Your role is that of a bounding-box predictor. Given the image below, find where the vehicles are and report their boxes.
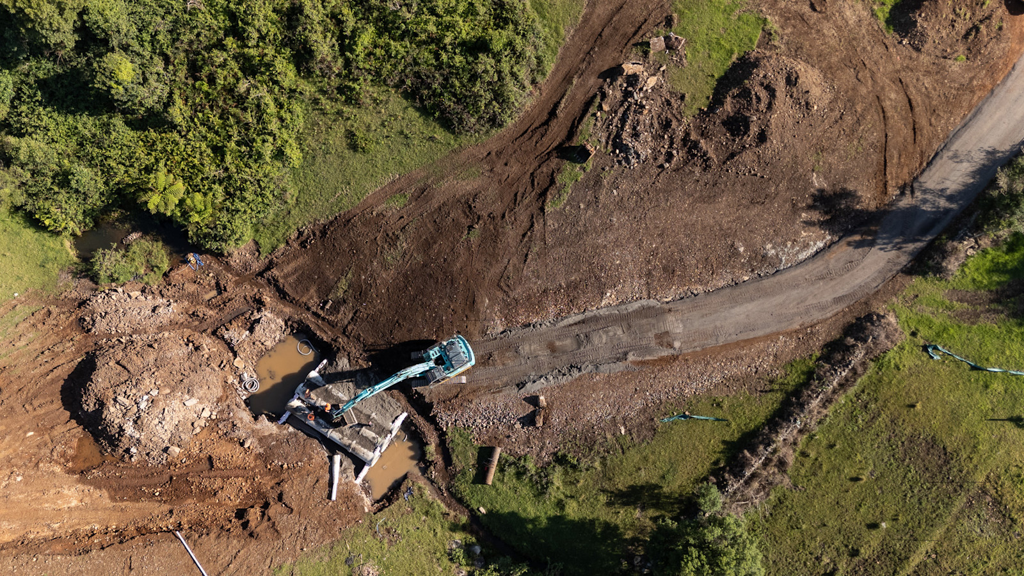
[332,336,474,428]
